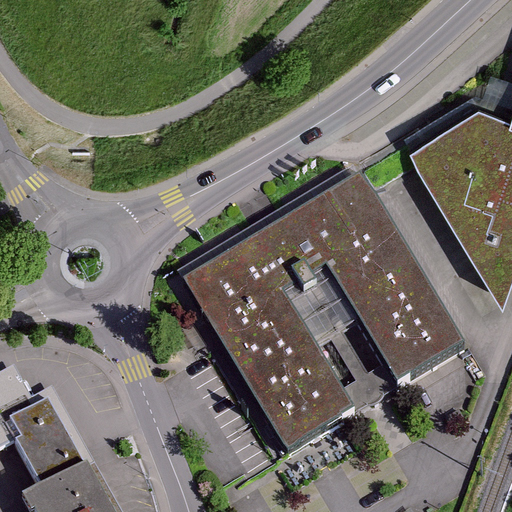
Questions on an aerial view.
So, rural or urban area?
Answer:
urban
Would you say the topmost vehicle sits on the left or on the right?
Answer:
right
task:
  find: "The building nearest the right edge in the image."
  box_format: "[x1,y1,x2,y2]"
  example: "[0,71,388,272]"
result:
[400,102,512,316]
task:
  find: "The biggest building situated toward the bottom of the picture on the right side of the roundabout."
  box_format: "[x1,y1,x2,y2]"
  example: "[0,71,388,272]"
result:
[178,170,465,458]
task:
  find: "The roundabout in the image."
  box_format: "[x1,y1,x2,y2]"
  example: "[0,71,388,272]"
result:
[38,218,132,310]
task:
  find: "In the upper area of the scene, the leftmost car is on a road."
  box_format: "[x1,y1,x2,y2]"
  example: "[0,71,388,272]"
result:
[198,172,217,186]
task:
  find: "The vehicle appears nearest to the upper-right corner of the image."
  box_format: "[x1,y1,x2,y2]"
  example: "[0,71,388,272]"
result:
[376,74,401,94]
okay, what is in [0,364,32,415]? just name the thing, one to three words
building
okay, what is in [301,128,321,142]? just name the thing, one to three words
car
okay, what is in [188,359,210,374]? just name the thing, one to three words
car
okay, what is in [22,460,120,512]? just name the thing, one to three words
building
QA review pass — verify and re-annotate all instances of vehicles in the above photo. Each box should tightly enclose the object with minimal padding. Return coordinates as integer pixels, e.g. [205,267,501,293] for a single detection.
[461,346,484,378]
[301,128,321,142]
[188,359,210,374]
[419,390,434,410]
[376,74,401,94]
[198,172,217,186]
[214,398,234,413]
[360,490,382,506]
